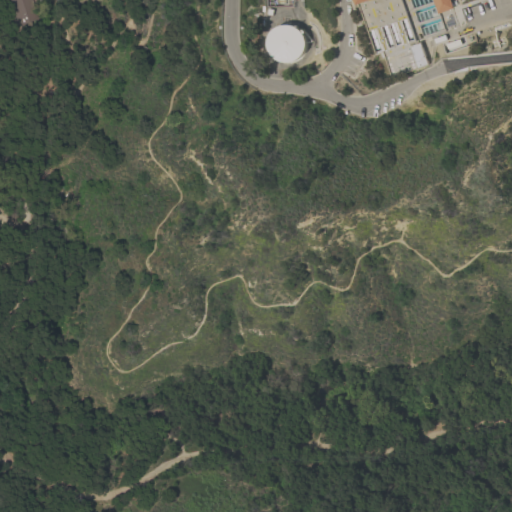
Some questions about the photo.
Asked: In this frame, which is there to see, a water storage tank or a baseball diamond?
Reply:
water storage tank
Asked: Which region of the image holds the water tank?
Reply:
top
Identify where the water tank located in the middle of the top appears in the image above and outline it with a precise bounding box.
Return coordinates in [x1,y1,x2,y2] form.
[264,24,314,65]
